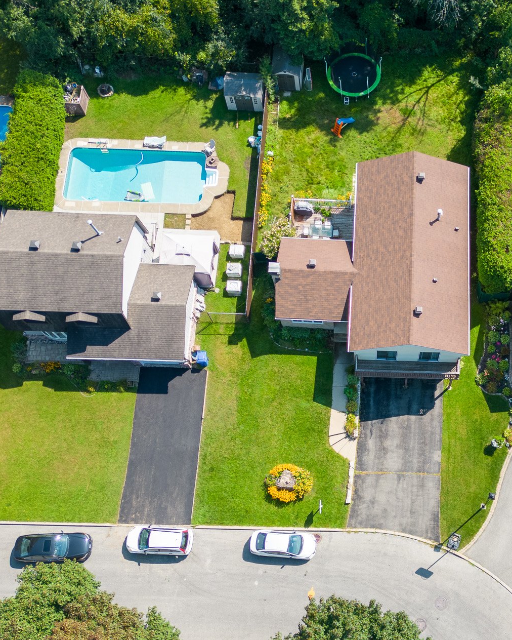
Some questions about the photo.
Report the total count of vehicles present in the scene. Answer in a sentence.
My tally gives 3 vehicles in this view.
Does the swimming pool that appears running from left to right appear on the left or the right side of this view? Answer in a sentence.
It is on the left.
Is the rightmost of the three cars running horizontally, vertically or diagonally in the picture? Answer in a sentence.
In this picture, the rightmost of the three cars is oriented horizontally.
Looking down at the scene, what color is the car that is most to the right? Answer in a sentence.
The color of the car that is most to the right is white.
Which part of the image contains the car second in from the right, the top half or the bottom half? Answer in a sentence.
The car second in from the right is in the bottom half of the image.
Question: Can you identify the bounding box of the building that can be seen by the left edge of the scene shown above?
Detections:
[0,210,203,369]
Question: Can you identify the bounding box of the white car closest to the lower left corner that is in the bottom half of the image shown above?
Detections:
[124,522,195,558]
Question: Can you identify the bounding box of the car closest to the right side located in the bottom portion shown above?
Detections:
[248,528,319,562]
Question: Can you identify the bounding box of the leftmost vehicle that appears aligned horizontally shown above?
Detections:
[12,529,94,564]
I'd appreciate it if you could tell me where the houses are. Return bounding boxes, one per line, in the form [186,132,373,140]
[0,210,203,369]
[266,151,472,393]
